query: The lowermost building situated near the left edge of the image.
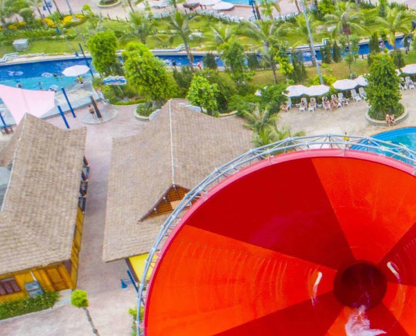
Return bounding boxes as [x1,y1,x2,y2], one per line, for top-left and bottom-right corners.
[0,110,98,304]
